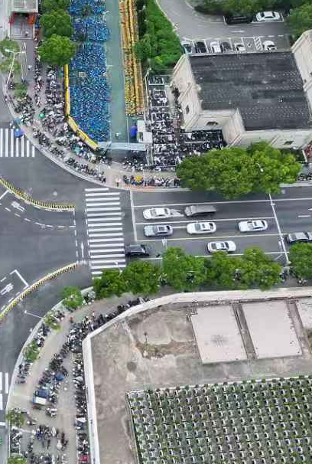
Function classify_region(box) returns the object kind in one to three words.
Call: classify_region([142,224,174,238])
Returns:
vehicle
